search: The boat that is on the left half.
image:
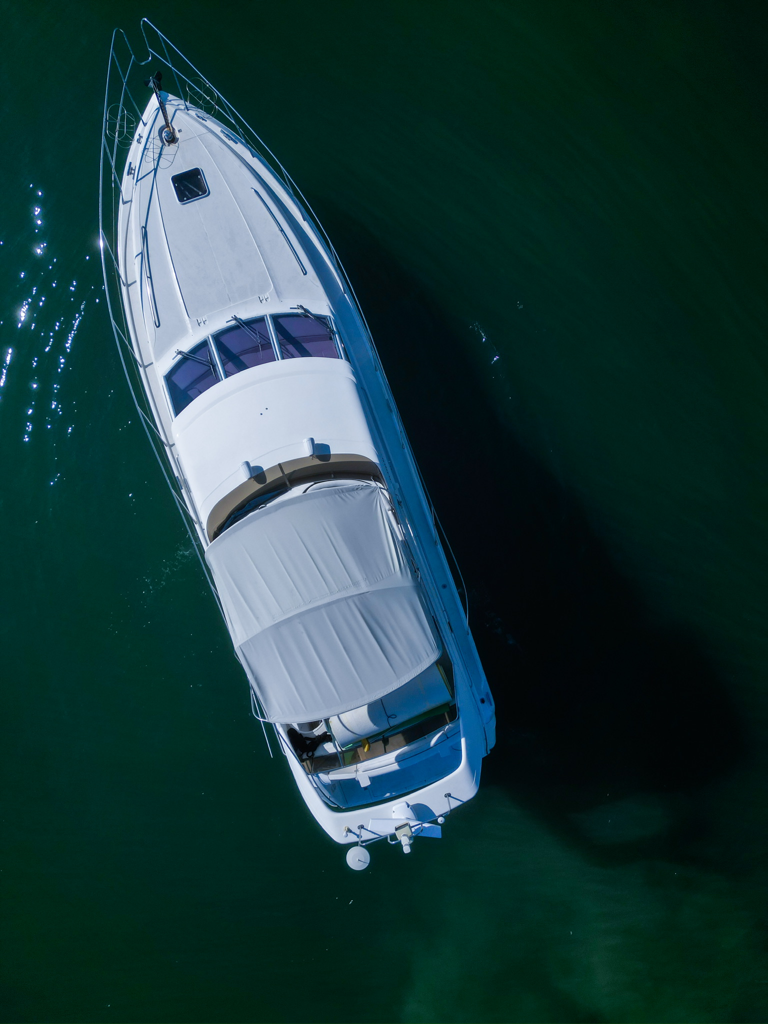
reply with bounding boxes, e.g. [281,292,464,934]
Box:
[99,18,498,867]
